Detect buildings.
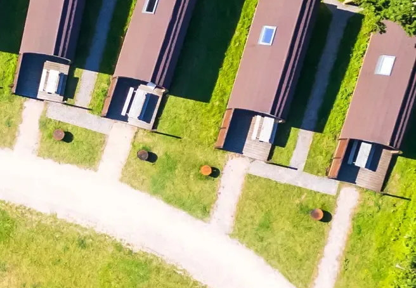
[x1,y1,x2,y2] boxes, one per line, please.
[100,0,197,129]
[9,0,86,103]
[323,19,416,193]
[212,0,321,161]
